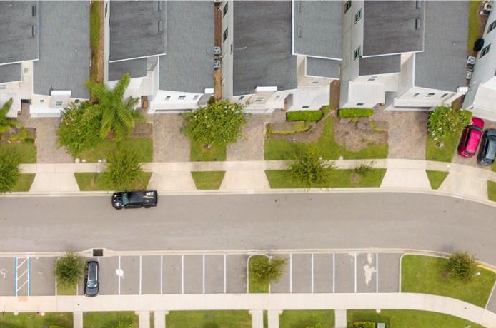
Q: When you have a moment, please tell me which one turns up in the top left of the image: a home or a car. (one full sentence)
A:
The one visible in the top left of the image is a home.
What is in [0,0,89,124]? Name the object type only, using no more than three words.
house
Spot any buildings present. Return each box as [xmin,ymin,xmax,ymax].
[466,13,496,116]
[341,0,468,114]
[0,0,89,124]
[102,0,213,115]
[220,0,338,115]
